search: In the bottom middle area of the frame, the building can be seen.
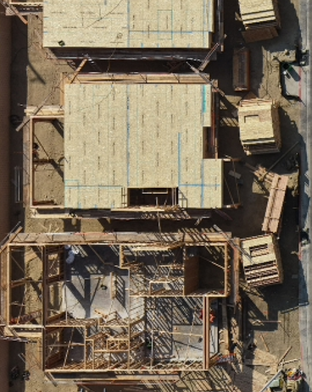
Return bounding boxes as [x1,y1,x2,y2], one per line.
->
[7,239,241,371]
